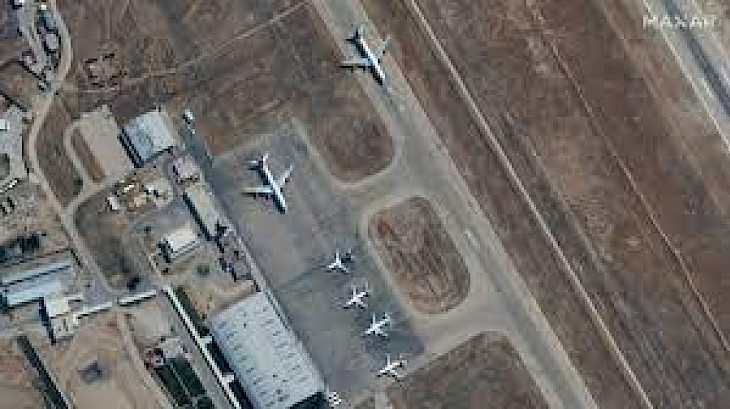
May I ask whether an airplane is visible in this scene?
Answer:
Yes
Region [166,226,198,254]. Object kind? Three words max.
building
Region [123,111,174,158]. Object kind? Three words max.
hangar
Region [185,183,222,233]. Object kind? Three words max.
building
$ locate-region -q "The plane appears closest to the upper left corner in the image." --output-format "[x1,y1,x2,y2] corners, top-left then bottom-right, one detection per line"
[242,155,296,213]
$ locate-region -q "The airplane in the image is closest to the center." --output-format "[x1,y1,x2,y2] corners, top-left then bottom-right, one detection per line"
[329,248,355,269]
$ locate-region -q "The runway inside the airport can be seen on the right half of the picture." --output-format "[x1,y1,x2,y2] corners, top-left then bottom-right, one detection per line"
[644,0,730,147]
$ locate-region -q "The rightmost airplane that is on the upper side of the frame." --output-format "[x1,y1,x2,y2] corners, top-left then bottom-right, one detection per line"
[341,27,392,83]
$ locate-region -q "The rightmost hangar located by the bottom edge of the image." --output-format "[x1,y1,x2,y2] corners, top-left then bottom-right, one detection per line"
[207,291,324,409]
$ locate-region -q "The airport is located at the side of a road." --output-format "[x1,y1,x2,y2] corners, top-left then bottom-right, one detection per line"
[204,0,730,409]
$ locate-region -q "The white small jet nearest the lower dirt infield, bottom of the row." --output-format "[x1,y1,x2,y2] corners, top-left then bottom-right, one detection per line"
[379,355,406,378]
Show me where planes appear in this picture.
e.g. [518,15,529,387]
[379,355,406,378]
[329,248,355,269]
[242,155,296,213]
[346,287,371,309]
[341,27,392,83]
[366,314,392,336]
